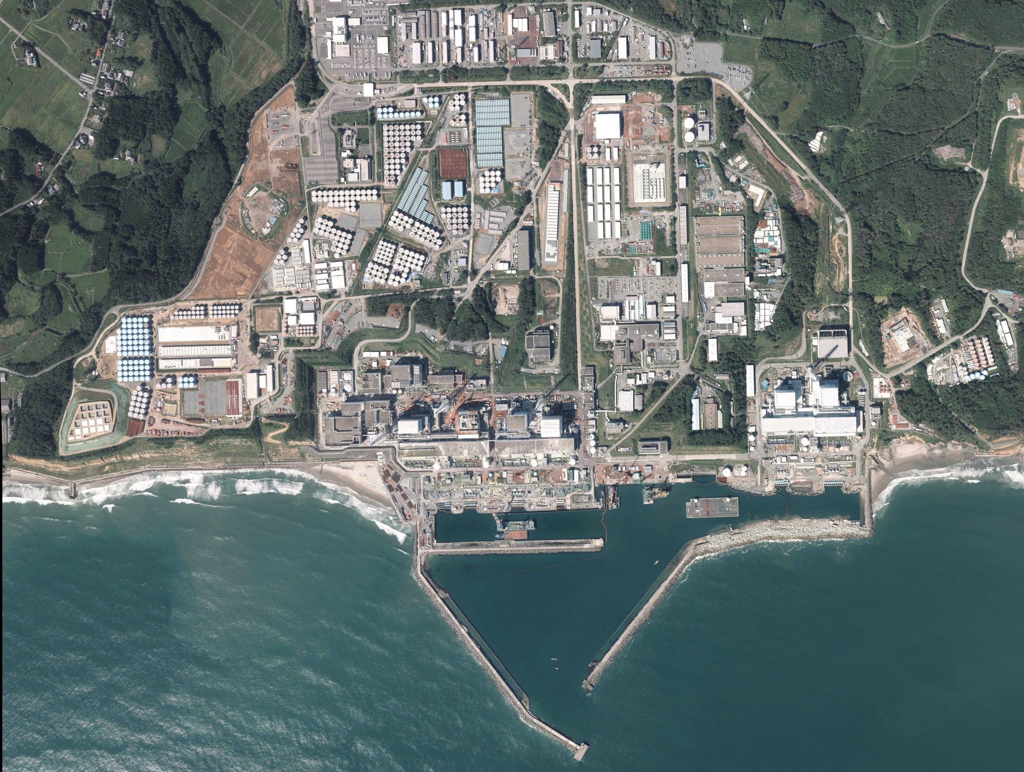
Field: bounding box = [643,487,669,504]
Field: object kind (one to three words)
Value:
ship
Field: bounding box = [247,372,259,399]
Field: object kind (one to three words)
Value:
building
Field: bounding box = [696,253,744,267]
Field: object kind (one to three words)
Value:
building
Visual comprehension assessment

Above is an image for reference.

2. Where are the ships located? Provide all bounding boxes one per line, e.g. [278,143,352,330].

[643,487,669,504]
[599,486,605,510]
[609,485,618,509]
[504,530,528,539]
[503,520,535,531]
